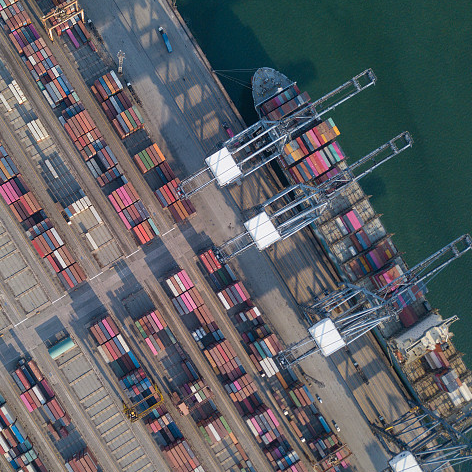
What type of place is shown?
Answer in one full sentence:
The picture captures a port.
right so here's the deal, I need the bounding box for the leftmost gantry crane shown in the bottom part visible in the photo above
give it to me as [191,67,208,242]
[123,381,166,423]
